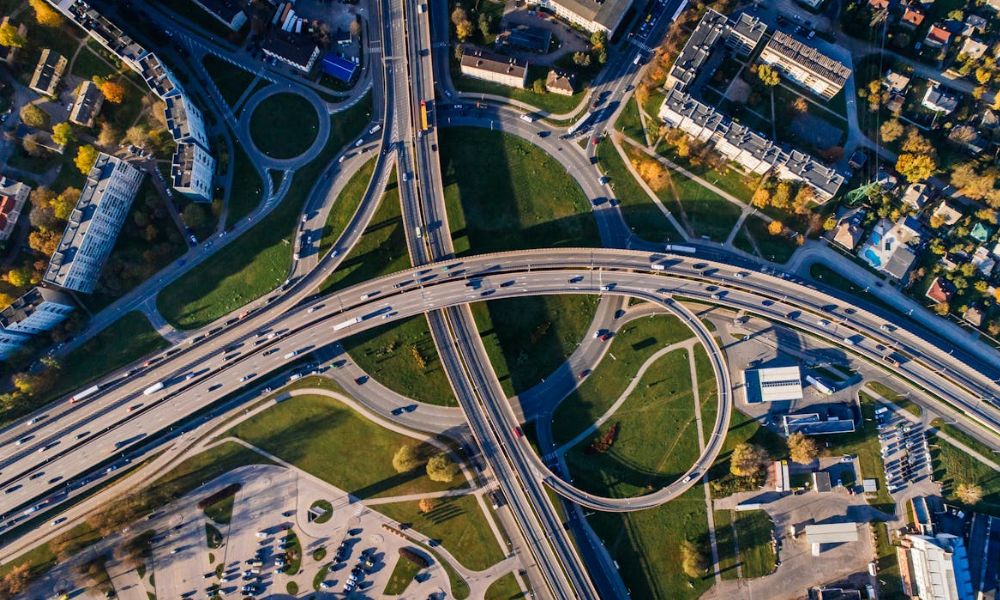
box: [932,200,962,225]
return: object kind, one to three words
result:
house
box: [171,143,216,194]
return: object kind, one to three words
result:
building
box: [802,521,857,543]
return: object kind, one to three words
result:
shed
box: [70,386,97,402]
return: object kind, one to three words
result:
vehicle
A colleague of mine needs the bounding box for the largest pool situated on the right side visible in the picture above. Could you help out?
[866,246,881,266]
